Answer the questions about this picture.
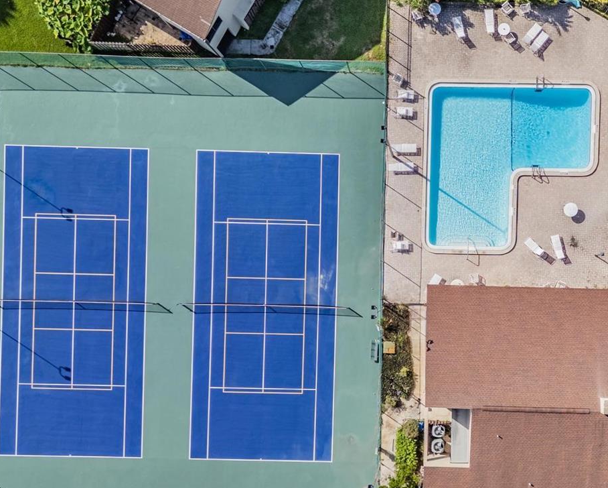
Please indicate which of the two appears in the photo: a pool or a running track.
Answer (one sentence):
The image shows a pool.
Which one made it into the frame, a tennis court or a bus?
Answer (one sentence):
There is a tennis court in the scene.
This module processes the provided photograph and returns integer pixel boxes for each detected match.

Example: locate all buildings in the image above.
[132,0,272,58]
[423,286,608,488]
